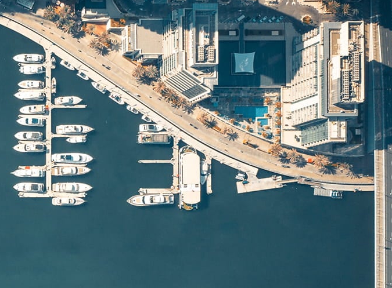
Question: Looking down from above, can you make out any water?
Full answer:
Yes, there is water in the image.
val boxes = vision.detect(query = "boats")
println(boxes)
[127,195,175,206]
[233,173,245,180]
[19,65,45,74]
[13,143,46,152]
[13,183,46,192]
[51,153,95,163]
[93,83,108,96]
[14,132,44,140]
[66,137,88,143]
[108,91,123,104]
[75,71,89,80]
[13,53,46,63]
[137,134,171,143]
[20,105,46,114]
[136,124,164,132]
[177,148,200,211]
[51,166,91,175]
[59,59,75,70]
[19,80,46,89]
[16,117,46,126]
[12,168,46,177]
[14,91,46,99]
[53,125,95,134]
[140,113,151,122]
[125,103,139,113]
[52,96,83,104]
[51,183,93,192]
[50,197,86,205]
